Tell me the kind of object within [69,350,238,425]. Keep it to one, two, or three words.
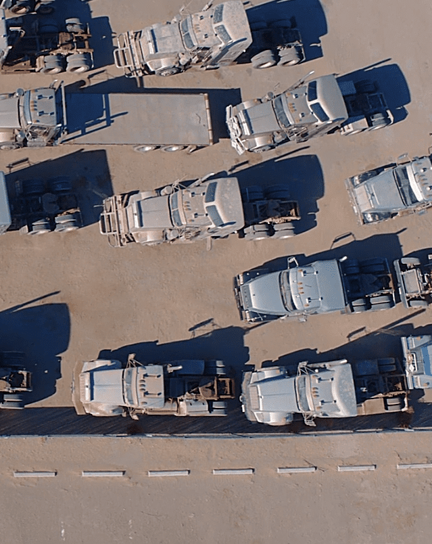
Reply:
truck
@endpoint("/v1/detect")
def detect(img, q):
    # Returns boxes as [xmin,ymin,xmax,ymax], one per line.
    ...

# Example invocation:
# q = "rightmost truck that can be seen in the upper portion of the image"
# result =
[344,152,432,227]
